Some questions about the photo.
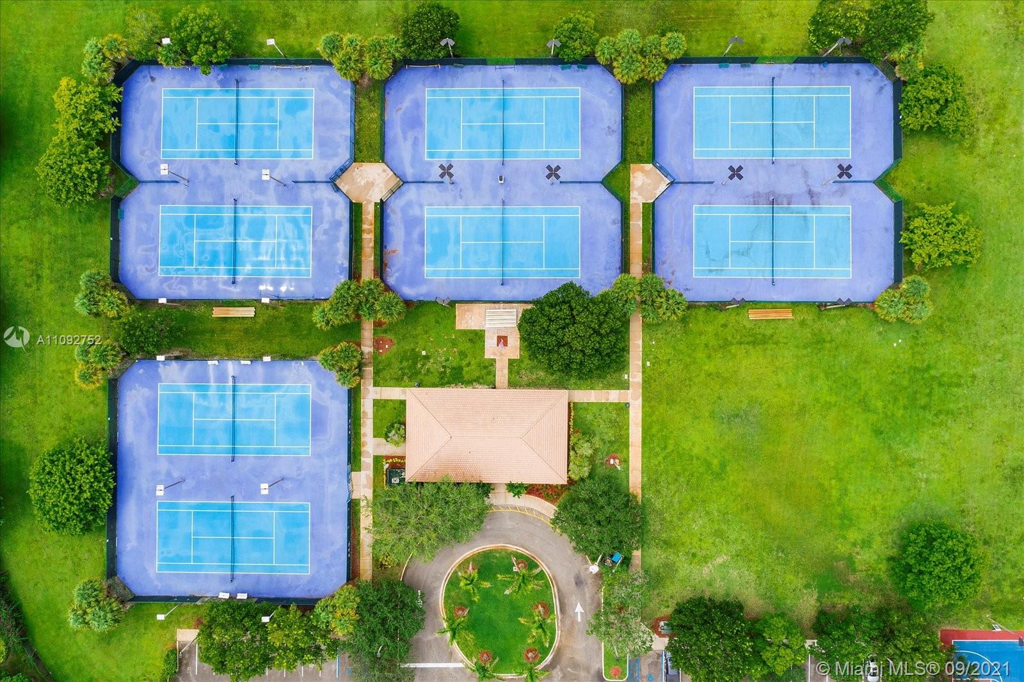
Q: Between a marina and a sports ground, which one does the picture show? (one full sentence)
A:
This image shows a sports ground.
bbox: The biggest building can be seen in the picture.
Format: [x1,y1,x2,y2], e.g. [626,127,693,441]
[405,388,569,484]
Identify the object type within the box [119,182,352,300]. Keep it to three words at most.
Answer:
tennis court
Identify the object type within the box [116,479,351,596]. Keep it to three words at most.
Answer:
tennis court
